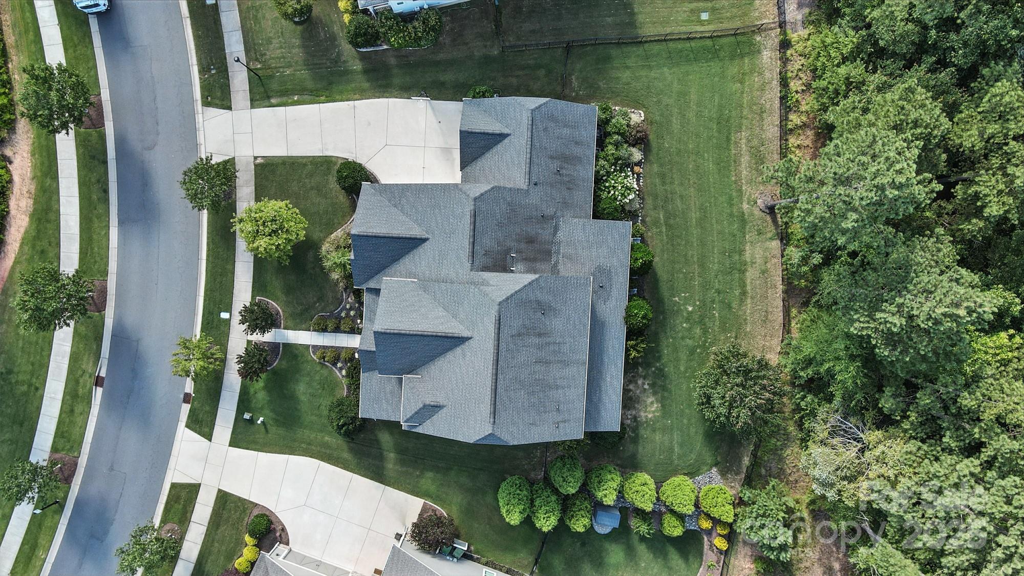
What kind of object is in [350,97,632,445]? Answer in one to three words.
house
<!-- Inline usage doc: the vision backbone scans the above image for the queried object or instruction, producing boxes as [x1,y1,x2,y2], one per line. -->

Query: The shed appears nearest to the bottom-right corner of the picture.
[595,507,620,530]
